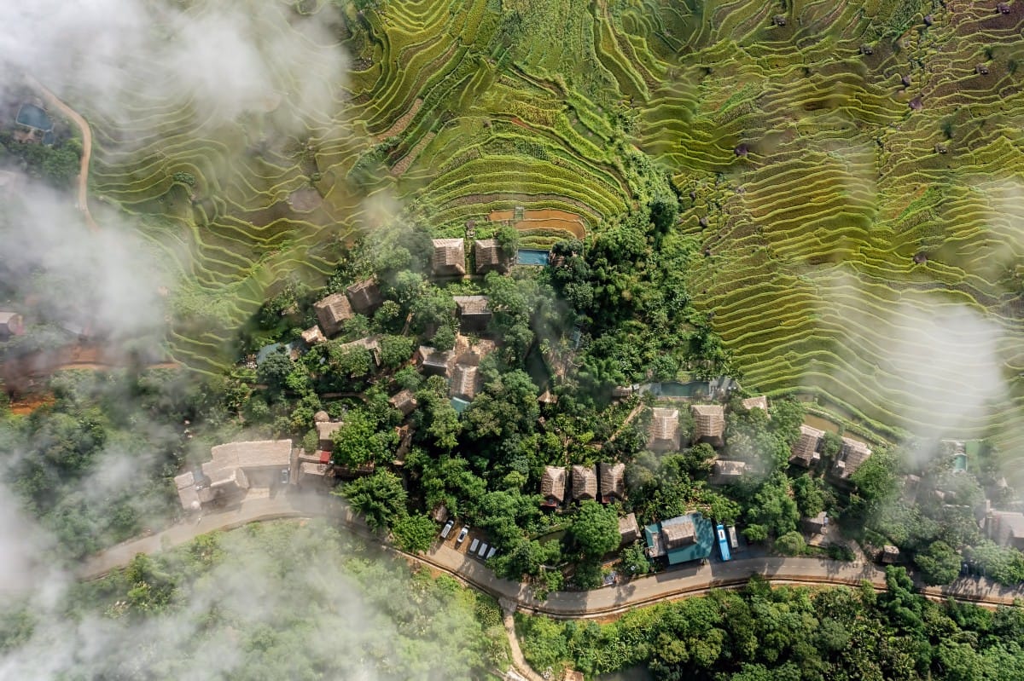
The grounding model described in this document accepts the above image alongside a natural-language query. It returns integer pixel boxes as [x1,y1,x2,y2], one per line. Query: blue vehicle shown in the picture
[713,523,731,562]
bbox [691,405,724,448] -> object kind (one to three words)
house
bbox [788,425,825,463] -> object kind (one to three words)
house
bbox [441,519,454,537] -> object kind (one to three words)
vehicle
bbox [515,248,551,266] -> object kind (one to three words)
swimming pool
